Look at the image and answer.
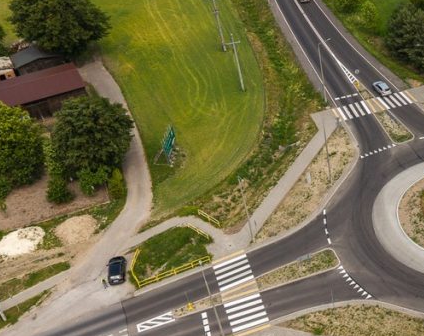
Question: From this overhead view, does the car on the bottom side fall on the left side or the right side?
left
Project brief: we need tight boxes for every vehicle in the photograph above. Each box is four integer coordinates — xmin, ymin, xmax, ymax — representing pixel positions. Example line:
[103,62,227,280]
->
[371,77,391,95]
[103,250,125,282]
